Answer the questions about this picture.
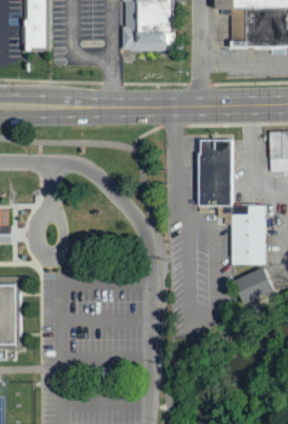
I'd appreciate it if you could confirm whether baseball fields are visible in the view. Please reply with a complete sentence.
No, I can see no baseball field in this picture.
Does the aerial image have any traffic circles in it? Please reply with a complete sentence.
No, the photo shows no traffic circle.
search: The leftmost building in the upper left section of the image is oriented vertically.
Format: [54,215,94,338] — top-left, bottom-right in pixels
[26,0,50,53]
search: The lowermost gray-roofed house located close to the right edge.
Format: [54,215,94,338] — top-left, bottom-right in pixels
[236,266,278,305]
